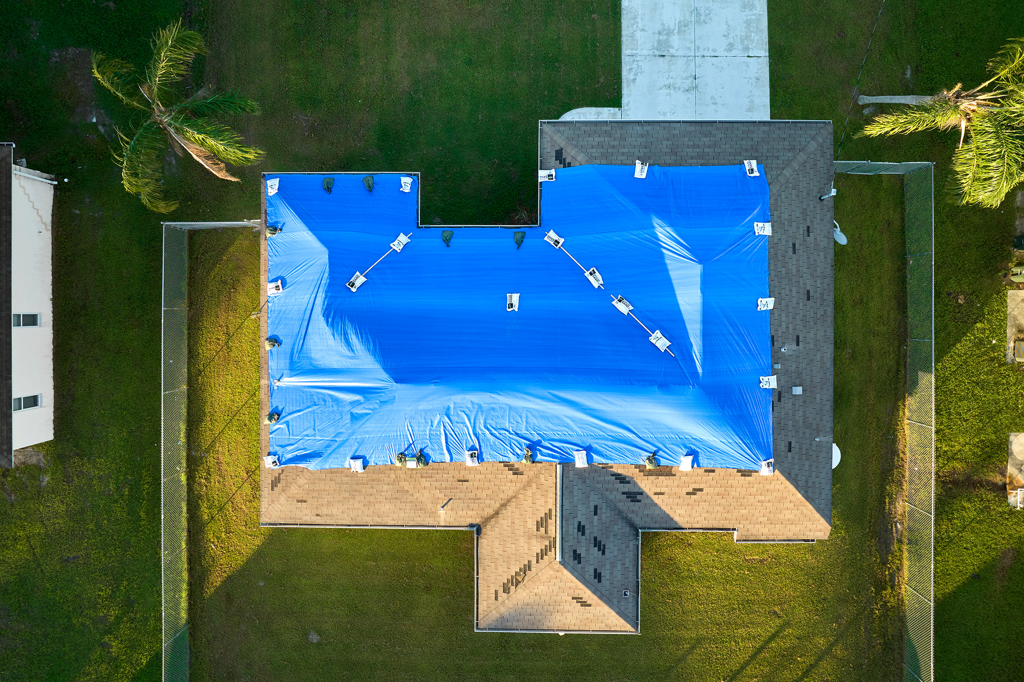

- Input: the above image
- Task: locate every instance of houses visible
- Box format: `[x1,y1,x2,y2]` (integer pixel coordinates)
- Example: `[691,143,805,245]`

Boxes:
[0,139,60,469]
[258,119,832,637]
